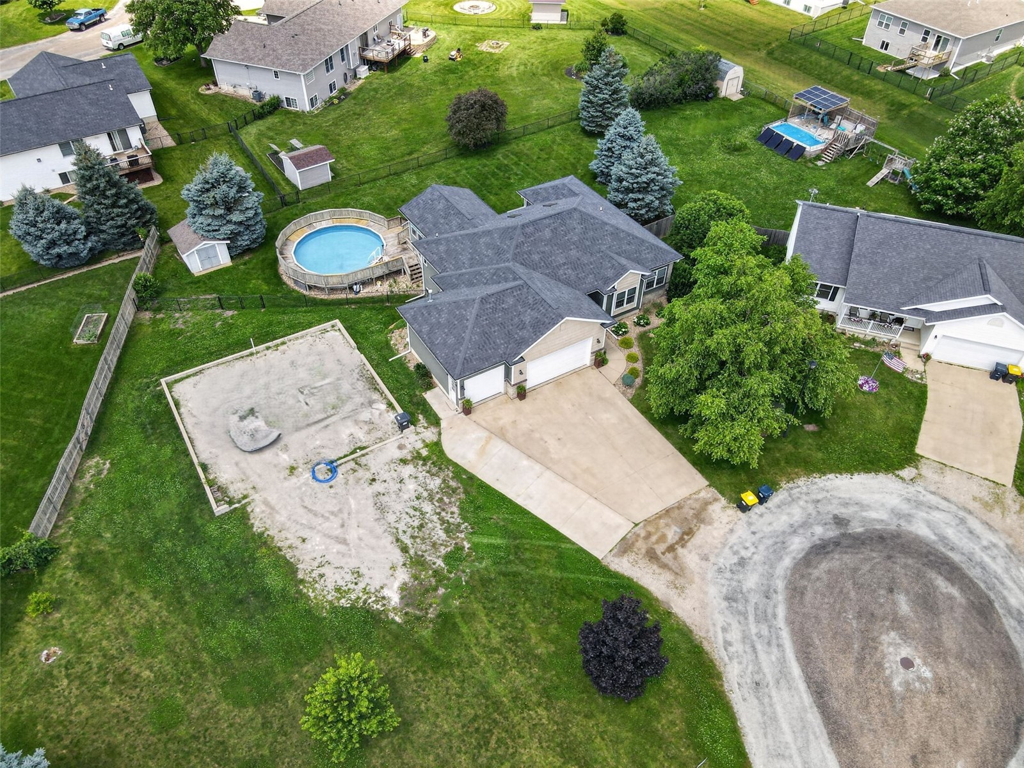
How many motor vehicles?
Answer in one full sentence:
I count 2 motor vehicles.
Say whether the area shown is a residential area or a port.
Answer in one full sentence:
The area seen from above is a residential area.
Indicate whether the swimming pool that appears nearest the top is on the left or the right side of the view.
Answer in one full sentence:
It is on the right.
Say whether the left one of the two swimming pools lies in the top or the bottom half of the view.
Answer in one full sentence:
You can find the left one of the two swimming pools in the top half.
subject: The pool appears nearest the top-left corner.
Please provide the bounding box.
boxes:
[290,224,389,291]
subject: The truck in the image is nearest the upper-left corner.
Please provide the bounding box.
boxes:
[61,5,110,31]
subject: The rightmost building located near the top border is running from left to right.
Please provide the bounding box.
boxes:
[852,0,1024,76]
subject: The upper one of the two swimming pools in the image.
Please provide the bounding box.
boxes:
[767,122,829,160]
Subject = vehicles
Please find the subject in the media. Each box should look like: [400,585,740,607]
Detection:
[97,19,149,50]
[61,5,110,31]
